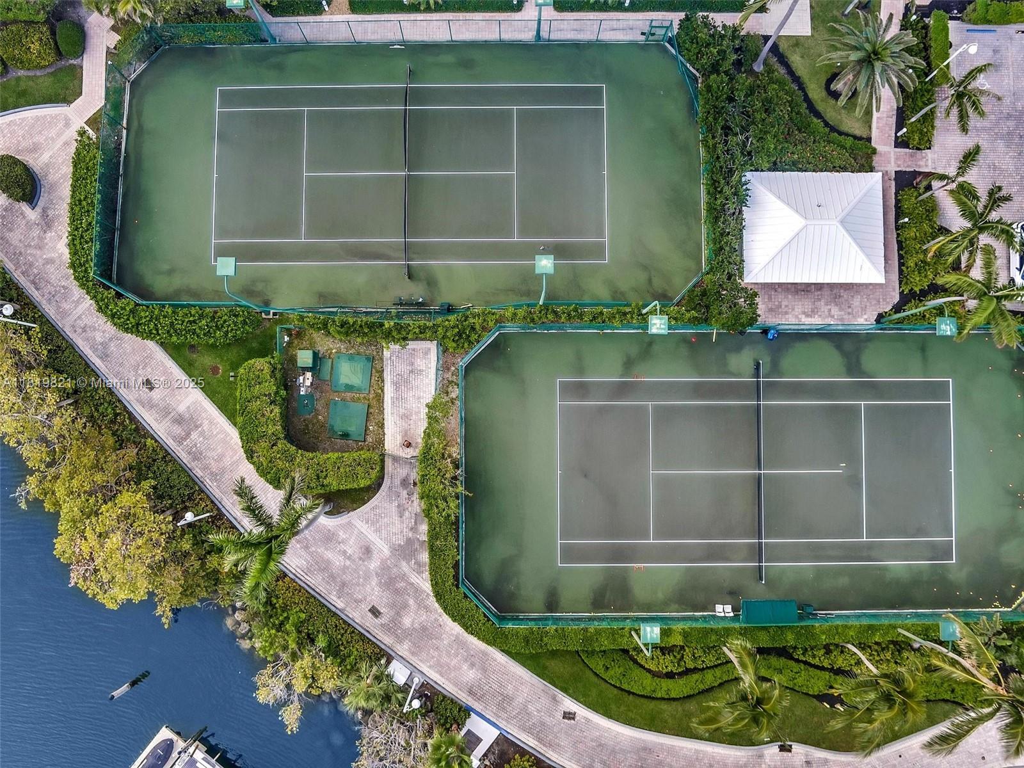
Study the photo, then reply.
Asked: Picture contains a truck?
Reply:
No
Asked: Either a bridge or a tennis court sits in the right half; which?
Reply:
tennis court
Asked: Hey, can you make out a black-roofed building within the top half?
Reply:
No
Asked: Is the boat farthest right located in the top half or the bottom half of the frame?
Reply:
bottom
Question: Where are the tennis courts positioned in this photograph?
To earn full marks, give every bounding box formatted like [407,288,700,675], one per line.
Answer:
[115,42,704,309]
[464,334,1024,614]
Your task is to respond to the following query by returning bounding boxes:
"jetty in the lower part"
[127,722,188,768]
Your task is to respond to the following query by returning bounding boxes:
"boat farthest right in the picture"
[175,735,230,768]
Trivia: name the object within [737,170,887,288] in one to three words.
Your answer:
building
